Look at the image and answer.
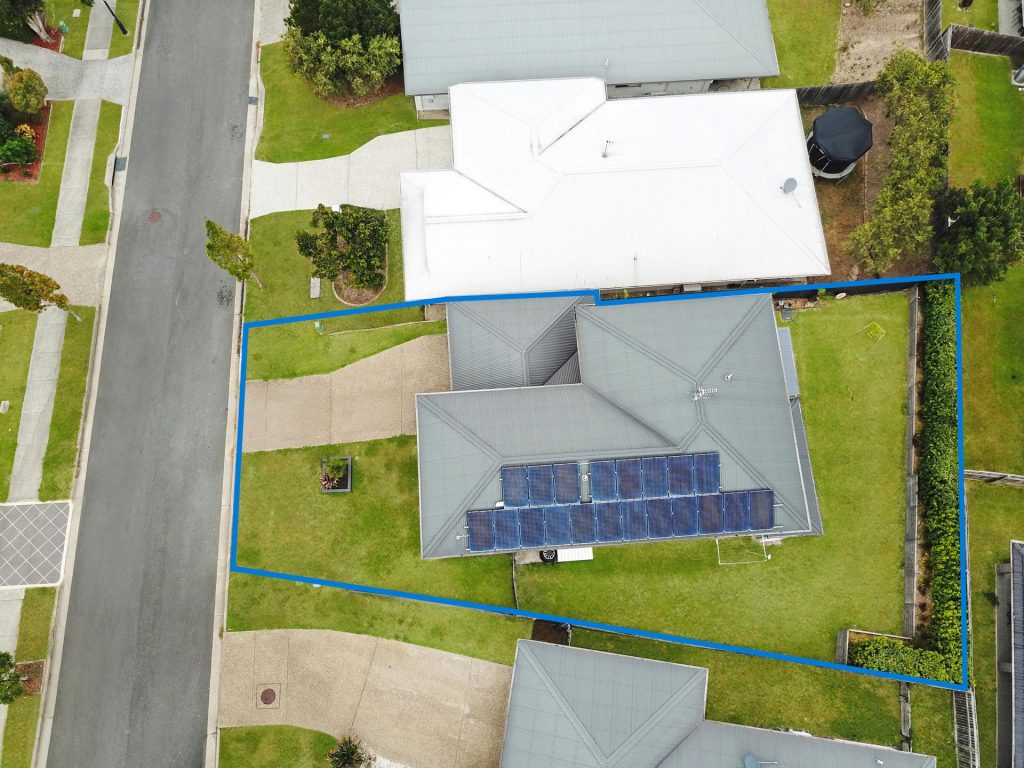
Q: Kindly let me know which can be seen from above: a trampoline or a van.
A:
trampoline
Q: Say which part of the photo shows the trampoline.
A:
top right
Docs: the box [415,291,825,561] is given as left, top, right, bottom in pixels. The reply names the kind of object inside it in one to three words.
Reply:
house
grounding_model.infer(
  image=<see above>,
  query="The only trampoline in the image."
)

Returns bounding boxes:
[808,110,874,188]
